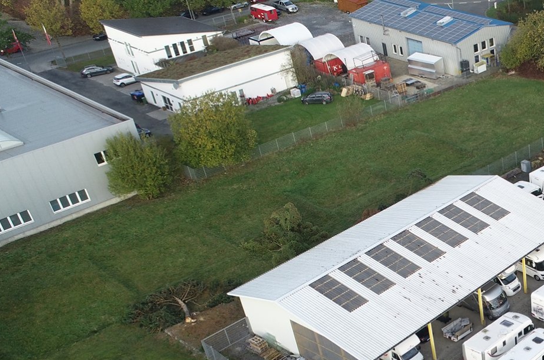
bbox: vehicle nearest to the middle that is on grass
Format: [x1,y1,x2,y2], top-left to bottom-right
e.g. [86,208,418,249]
[299,92,331,107]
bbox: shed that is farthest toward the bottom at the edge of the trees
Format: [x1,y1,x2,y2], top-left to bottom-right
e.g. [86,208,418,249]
[222,175,544,360]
